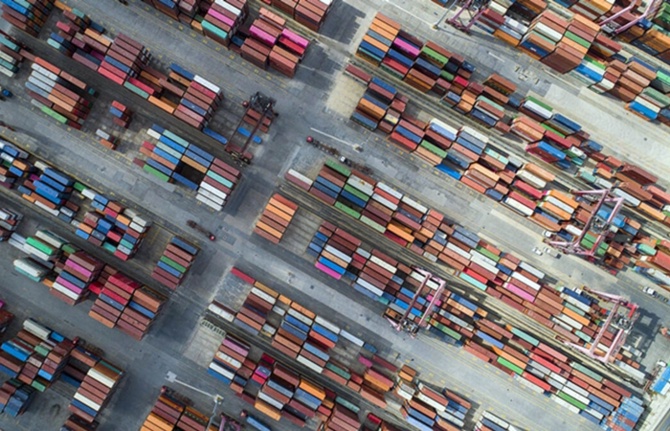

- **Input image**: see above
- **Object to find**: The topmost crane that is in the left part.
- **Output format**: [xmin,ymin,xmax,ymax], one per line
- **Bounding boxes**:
[221,88,287,168]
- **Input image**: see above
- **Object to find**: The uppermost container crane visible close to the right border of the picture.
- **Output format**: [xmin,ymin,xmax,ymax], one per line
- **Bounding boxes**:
[597,0,656,46]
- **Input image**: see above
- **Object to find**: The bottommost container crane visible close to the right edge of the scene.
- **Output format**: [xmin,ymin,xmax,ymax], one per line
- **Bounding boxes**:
[551,283,642,366]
